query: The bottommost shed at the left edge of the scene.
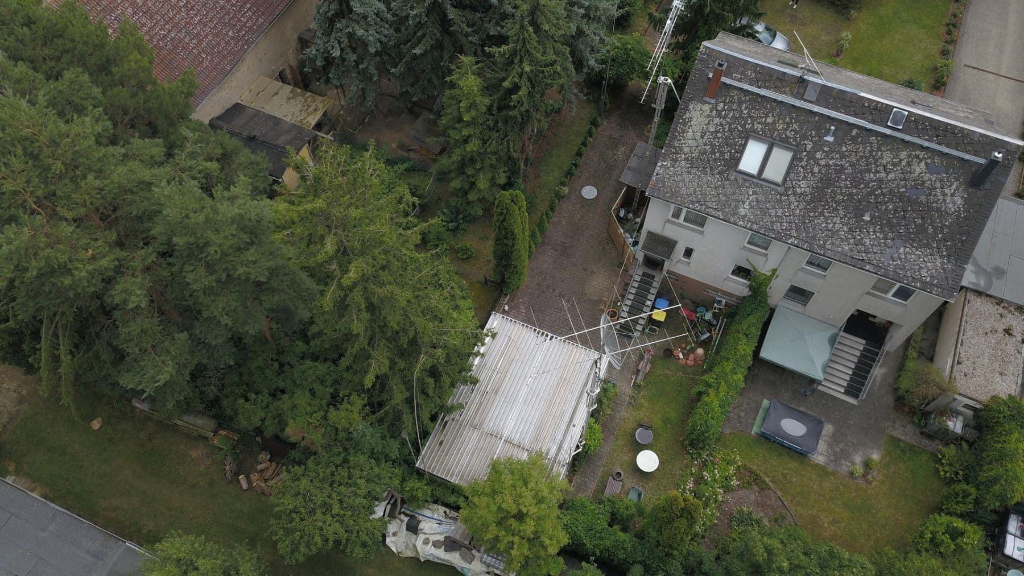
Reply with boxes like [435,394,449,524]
[0,478,180,576]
